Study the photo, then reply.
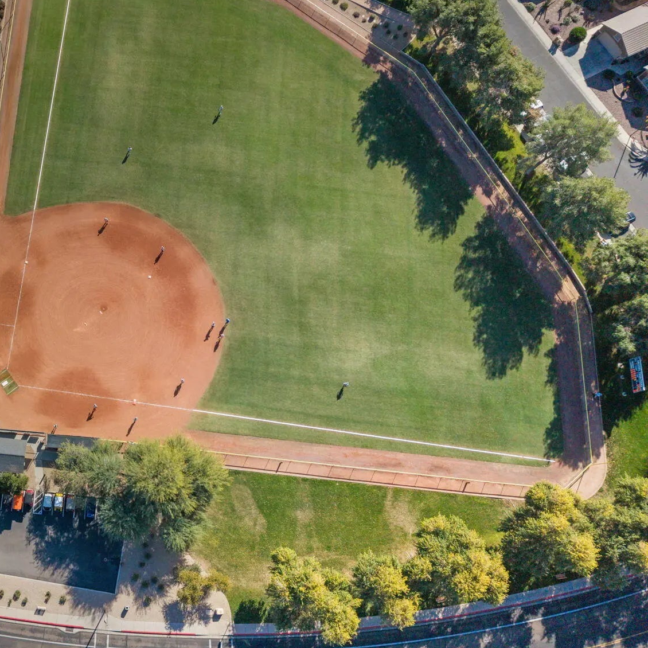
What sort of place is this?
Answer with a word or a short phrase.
sports ground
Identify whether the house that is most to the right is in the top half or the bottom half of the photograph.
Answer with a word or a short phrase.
top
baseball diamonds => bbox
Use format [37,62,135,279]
[0,0,608,499]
